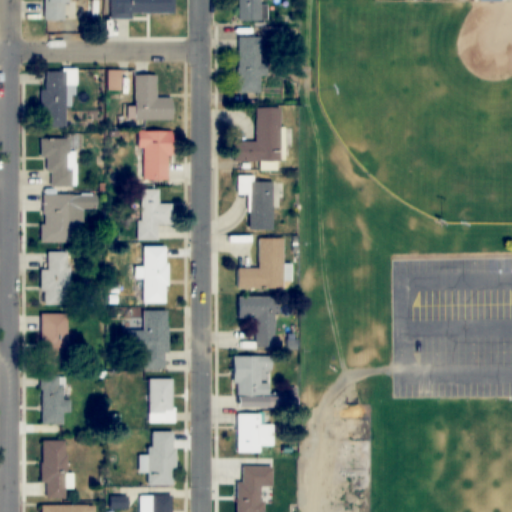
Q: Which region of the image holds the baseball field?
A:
top right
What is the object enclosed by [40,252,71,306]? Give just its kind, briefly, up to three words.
house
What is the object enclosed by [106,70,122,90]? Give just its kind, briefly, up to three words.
building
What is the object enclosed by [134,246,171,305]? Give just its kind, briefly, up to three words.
house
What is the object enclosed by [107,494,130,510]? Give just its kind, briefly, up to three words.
building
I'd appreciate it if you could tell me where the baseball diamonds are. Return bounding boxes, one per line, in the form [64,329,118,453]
[318,0,512,223]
